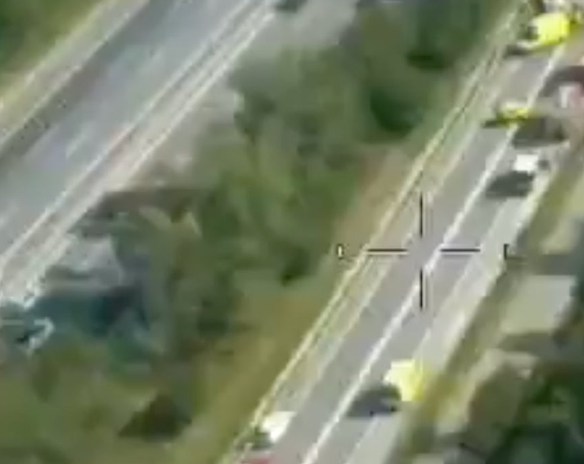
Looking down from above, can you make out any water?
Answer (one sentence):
No, the picture contains no water.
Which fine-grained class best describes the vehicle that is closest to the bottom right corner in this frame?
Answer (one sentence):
It turns out the vehicle that is closest to the bottom right corner is a truck.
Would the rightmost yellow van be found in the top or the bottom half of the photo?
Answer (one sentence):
The rightmost yellow van is in the top half of the image.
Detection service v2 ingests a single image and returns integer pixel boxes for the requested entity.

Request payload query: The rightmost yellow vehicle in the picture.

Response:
[525,11,572,49]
